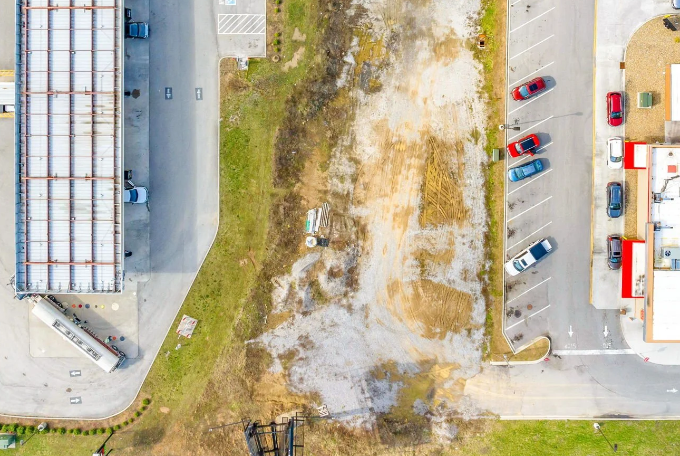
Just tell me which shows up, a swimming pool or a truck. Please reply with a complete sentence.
Of the two, only a truck appears.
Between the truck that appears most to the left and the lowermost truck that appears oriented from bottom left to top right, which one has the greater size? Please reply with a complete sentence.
The larger object is the truck that appears most to the left, with the lowermost truck that appears oriented from bottom left to top right being the smaller of the pair.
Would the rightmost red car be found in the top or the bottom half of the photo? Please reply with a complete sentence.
The rightmost red car is in the top half of the image.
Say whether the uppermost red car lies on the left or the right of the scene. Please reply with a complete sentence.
The uppermost red car is on the right side of the image.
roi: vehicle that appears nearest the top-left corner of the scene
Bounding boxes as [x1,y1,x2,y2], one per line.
[125,20,150,38]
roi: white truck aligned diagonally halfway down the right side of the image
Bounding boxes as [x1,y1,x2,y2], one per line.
[506,239,555,274]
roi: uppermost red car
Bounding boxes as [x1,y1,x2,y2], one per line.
[510,76,547,102]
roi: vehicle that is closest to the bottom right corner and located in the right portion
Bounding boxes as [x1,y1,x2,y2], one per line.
[606,234,623,270]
